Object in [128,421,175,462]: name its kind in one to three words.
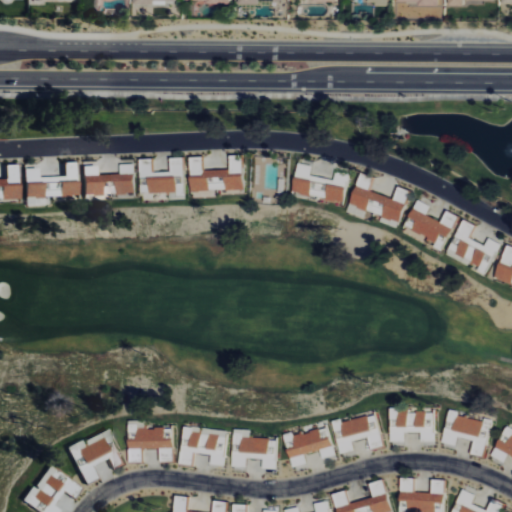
house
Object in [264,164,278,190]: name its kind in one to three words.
swimming pool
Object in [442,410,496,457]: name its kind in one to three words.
house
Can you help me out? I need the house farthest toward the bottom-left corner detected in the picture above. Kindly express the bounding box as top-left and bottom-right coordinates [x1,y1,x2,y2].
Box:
[24,466,85,512]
